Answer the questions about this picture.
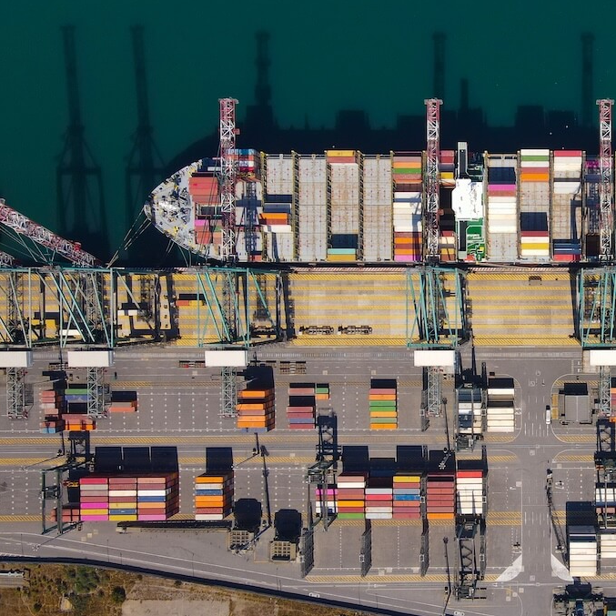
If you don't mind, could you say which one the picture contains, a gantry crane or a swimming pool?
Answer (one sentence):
Looking from above, you can make out a gantry crane.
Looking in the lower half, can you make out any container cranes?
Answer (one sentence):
Yes, a container crane appears in the lower half.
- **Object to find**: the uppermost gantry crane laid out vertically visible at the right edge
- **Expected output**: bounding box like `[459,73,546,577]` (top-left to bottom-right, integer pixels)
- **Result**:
[569,97,616,420]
